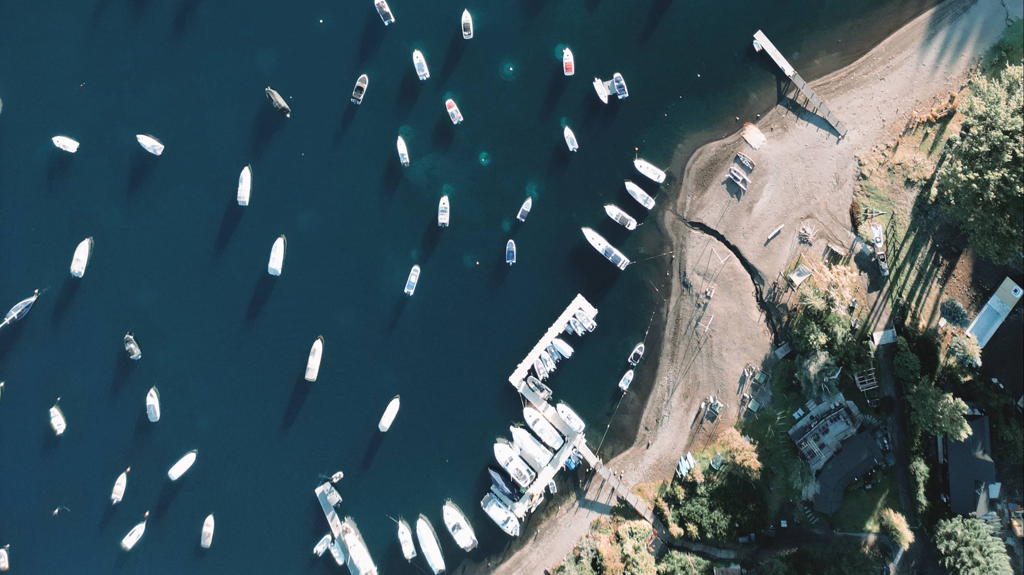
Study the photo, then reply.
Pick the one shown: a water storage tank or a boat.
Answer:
boat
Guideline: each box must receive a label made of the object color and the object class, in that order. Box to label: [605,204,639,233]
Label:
white boat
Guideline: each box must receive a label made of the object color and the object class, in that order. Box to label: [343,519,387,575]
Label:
white boat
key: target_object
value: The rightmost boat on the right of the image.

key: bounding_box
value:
[873,221,886,248]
